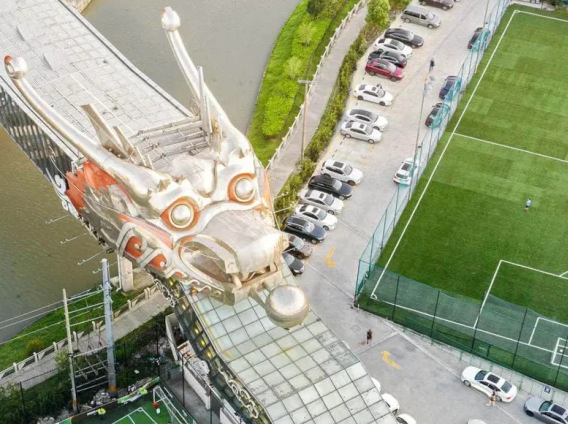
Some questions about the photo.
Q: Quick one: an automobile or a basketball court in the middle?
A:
automobile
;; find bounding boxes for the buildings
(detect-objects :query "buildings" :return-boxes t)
[154,259,407,424]
[0,0,192,320]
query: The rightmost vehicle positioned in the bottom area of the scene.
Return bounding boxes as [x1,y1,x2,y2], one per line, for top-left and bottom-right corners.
[523,399,568,424]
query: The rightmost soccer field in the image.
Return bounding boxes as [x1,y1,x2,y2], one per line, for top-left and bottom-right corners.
[356,3,568,391]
